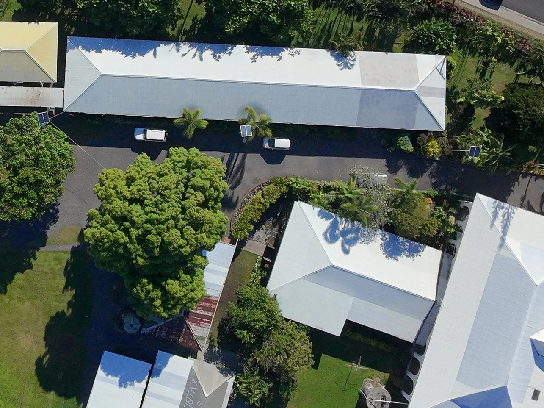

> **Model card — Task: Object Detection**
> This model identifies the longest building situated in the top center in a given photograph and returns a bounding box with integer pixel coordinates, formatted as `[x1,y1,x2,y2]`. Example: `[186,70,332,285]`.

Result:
[63,35,447,132]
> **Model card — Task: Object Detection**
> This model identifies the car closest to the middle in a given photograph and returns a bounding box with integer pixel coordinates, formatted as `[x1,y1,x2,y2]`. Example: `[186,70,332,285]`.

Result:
[263,138,290,151]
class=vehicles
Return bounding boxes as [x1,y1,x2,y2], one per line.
[263,138,290,151]
[134,127,167,143]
